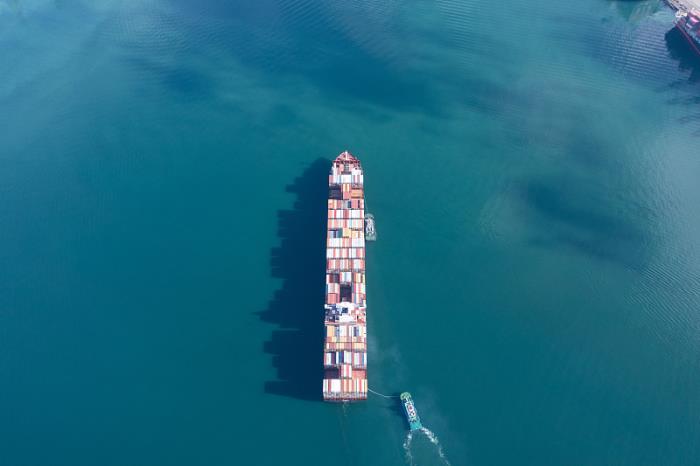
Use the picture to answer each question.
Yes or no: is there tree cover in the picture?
No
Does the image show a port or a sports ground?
port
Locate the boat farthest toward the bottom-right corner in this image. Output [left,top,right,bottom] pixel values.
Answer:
[401,391,422,430]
